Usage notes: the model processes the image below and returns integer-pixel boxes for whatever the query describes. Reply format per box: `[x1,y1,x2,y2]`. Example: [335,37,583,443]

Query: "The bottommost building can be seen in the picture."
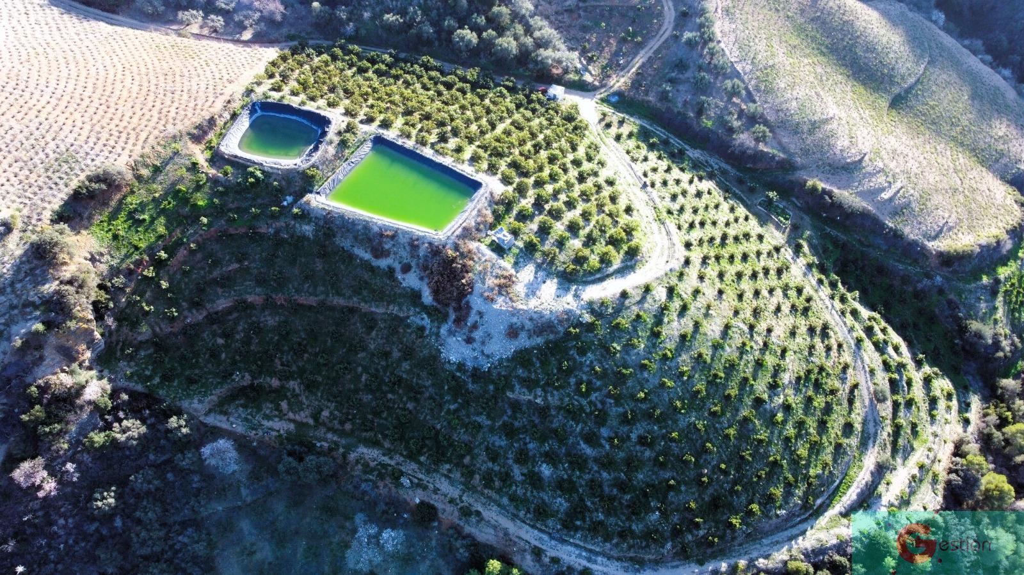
[492,228,514,251]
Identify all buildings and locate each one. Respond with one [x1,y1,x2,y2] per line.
[547,84,566,102]
[492,228,514,251]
